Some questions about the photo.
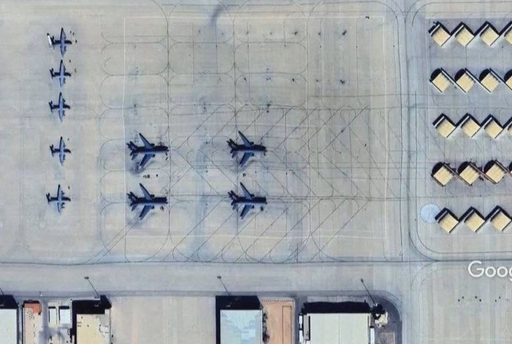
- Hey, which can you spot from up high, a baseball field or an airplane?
airplane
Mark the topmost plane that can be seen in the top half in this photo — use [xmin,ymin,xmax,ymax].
[50,29,72,58]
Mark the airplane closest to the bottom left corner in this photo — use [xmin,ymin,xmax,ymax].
[49,185,70,214]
